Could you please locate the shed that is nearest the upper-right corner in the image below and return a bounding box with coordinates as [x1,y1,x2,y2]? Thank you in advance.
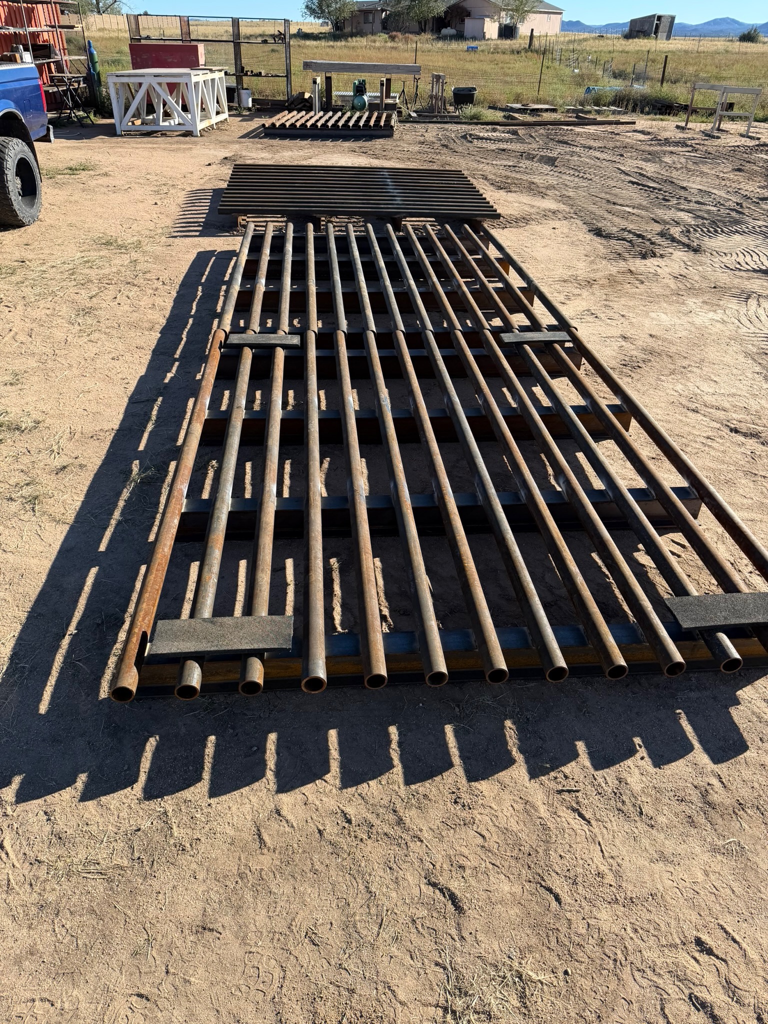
[629,13,677,39]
